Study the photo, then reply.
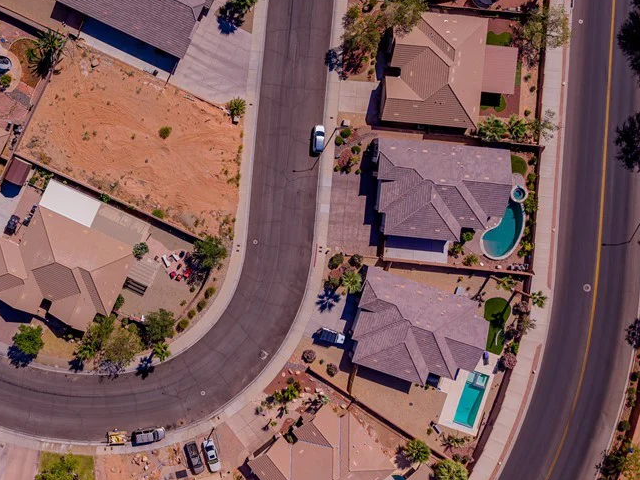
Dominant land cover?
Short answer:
paved ground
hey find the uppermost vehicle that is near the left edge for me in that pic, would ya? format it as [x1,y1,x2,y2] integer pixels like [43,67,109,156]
[2,213,22,238]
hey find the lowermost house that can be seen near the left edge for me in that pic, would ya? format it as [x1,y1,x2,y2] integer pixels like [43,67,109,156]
[0,205,133,331]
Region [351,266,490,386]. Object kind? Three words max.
house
